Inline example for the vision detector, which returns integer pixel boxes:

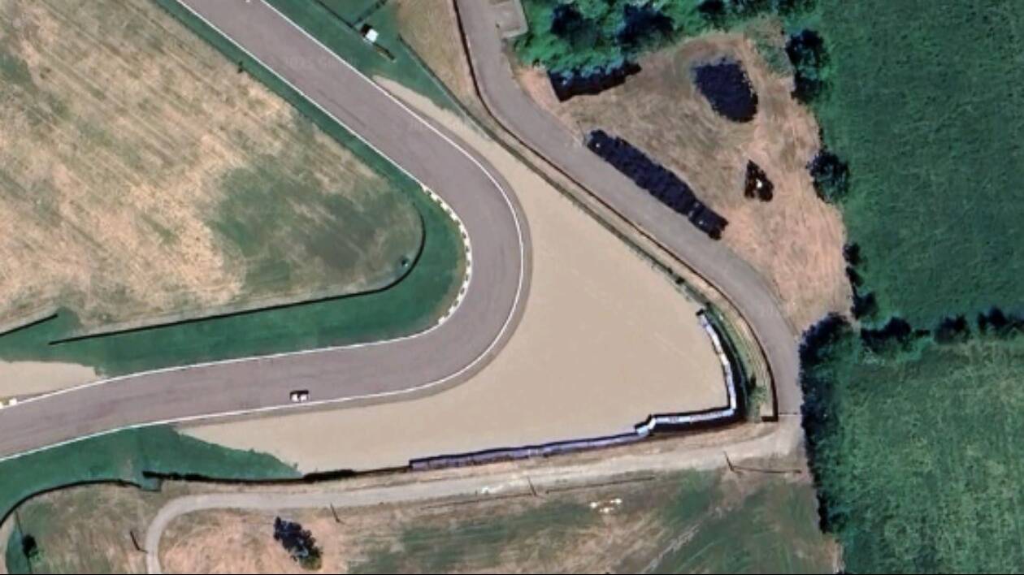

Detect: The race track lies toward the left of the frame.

[0,0,524,462]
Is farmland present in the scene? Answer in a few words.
Yes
